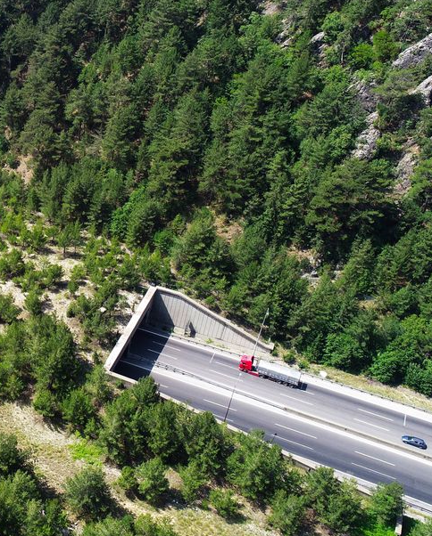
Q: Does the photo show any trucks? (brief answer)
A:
Yes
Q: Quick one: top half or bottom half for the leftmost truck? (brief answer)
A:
bottom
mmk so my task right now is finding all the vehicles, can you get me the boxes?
[404,436,429,450]
[243,354,306,388]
